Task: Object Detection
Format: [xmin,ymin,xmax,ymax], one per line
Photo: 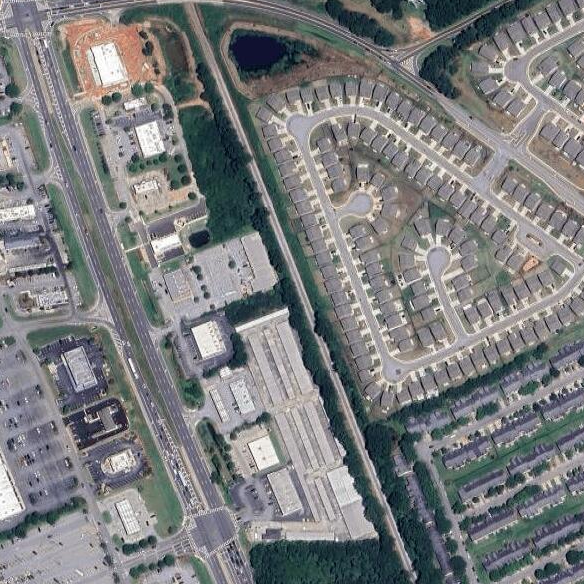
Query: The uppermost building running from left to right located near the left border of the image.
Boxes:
[0,205,37,224]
